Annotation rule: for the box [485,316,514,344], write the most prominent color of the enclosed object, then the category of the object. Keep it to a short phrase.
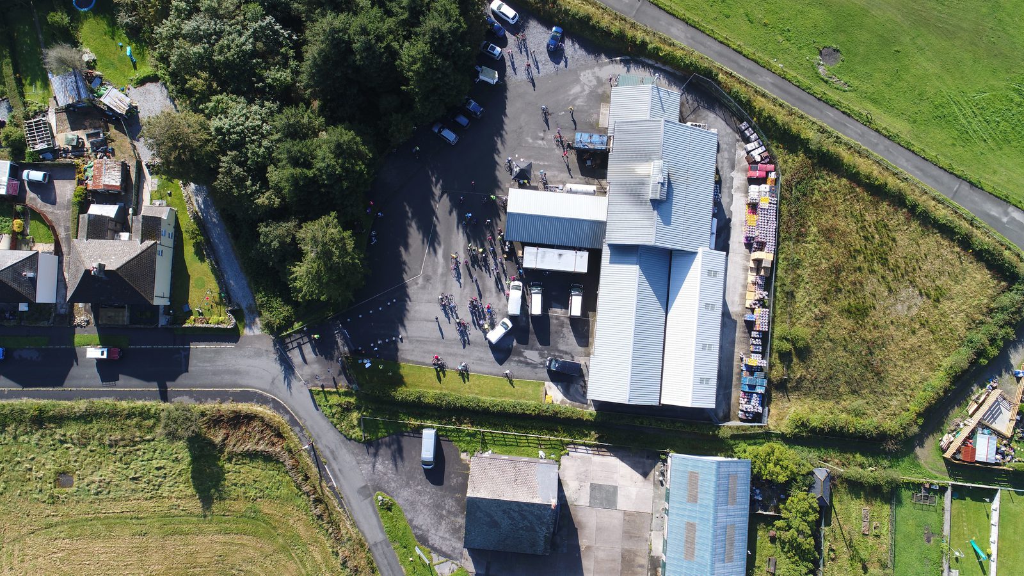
white van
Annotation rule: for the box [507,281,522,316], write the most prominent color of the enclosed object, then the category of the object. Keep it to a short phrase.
white vehicle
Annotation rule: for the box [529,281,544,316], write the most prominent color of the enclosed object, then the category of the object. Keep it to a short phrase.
white vehicle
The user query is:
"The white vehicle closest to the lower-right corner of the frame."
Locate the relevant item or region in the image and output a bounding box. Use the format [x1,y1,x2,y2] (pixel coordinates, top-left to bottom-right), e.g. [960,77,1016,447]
[569,283,584,318]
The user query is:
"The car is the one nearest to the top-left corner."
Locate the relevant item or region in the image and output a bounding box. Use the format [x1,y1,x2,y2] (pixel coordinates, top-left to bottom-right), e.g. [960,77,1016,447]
[24,168,53,184]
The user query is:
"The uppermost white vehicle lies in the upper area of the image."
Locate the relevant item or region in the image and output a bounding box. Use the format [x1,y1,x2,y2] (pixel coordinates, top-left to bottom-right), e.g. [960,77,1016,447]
[490,0,521,27]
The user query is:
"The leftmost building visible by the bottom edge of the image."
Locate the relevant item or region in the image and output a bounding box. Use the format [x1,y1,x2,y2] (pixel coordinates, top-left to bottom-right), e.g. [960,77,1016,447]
[464,450,559,555]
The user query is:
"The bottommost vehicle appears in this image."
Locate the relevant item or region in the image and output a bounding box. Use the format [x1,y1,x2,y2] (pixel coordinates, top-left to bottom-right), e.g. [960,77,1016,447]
[420,428,437,468]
